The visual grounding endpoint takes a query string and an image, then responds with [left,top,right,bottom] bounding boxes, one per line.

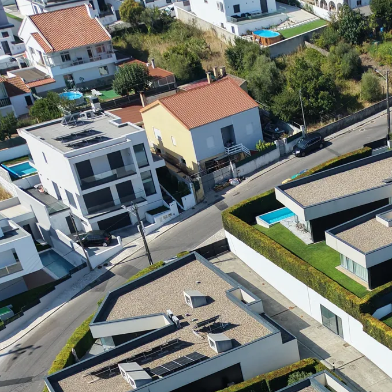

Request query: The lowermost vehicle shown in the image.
[79,229,112,247]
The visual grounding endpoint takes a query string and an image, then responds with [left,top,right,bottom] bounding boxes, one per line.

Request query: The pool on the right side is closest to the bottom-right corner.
[255,201,296,226]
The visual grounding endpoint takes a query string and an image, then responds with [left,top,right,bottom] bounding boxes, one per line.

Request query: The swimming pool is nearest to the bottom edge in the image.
[39,248,70,276]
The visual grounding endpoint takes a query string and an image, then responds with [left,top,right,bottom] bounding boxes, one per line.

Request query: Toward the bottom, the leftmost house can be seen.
[0,211,48,301]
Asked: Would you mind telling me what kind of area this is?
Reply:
residential area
